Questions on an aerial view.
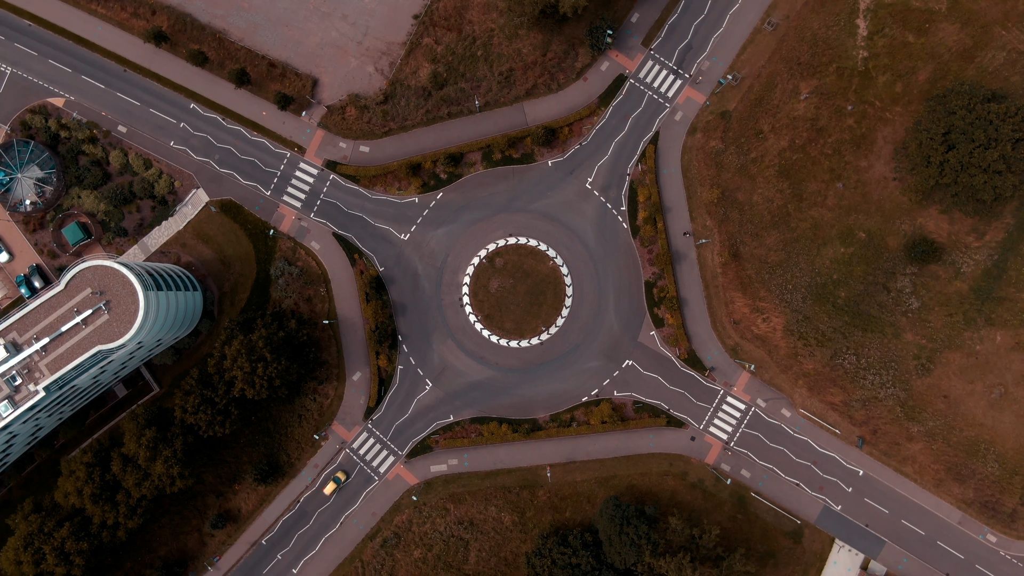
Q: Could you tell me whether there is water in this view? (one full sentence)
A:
No, water can't be seen anywhere here.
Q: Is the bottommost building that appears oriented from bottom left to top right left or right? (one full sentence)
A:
The bottommost building that appears oriented from bottom left to top right sits on the left side.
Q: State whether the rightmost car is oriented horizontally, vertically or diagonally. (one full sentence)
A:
In this picture, the rightmost car is oriented diagonally.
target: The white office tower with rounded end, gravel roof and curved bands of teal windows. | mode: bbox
[0,253,203,473]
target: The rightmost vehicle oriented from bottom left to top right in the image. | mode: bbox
[322,469,348,497]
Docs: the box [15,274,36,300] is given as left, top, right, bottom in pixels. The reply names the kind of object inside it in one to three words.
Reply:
car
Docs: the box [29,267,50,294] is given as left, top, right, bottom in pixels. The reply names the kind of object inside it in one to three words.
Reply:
car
